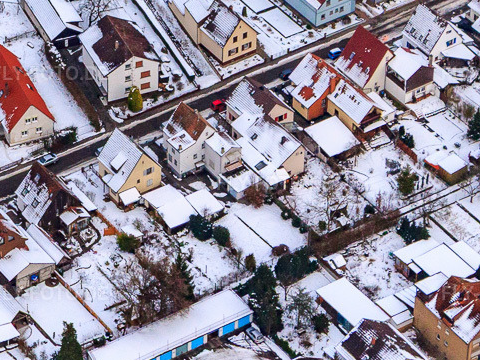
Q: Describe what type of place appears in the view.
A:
residential area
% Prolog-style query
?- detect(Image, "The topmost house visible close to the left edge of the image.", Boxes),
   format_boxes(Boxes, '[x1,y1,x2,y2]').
[24,0,84,48]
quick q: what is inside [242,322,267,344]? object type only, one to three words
car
